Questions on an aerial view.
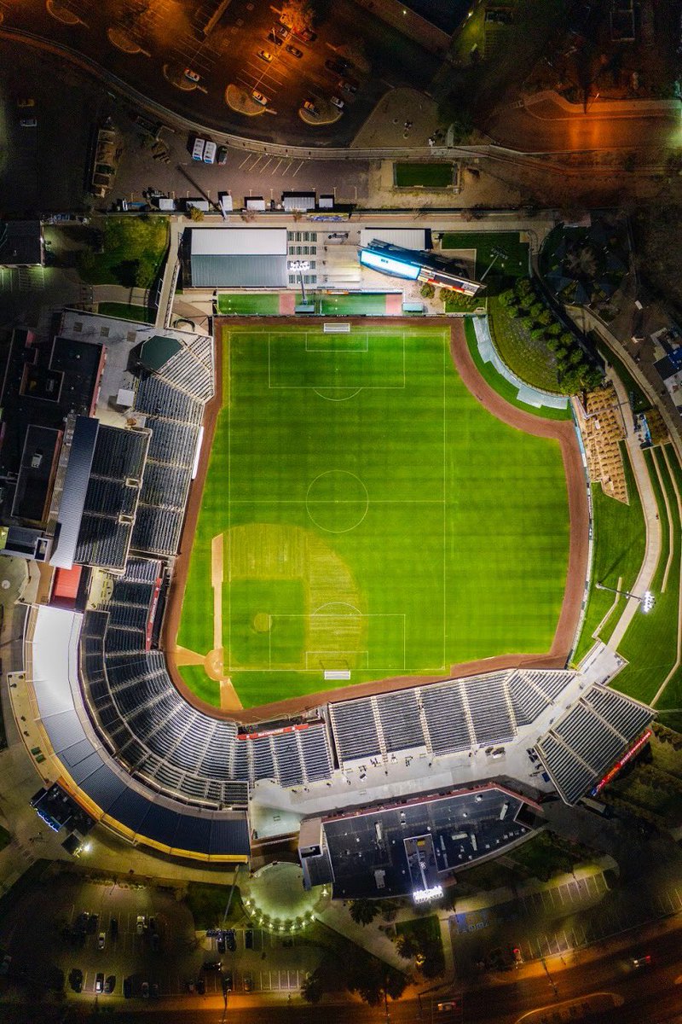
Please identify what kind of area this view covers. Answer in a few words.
sports ground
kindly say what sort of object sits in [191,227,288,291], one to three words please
building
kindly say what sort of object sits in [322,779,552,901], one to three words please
building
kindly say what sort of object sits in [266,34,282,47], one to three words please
vehicle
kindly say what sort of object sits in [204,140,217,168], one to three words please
vehicle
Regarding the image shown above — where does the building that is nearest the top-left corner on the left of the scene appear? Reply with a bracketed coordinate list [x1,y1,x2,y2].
[0,219,49,273]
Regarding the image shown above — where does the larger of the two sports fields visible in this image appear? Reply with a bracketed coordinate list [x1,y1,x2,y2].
[163,317,589,723]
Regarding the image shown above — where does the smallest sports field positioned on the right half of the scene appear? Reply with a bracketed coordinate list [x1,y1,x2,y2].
[385,161,460,191]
